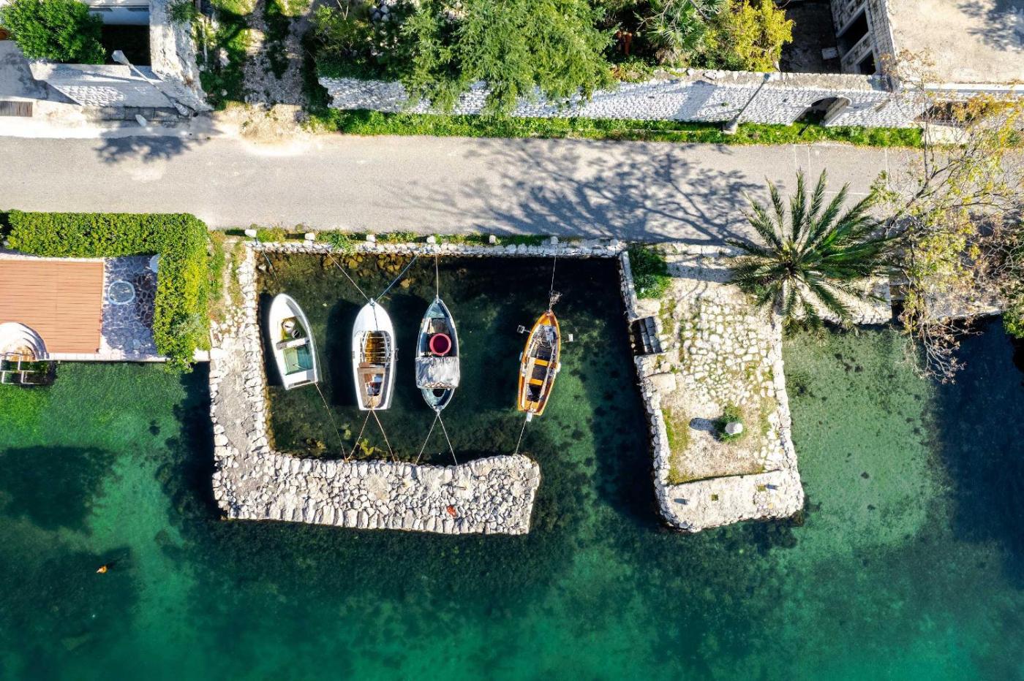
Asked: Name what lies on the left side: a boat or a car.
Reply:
boat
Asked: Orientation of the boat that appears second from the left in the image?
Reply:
up and down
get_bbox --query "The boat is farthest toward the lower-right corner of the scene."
[515,311,573,422]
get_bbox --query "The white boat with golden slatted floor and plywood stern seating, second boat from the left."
[352,300,399,410]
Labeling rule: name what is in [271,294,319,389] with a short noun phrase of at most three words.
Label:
boat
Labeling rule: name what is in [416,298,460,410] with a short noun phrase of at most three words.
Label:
boat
